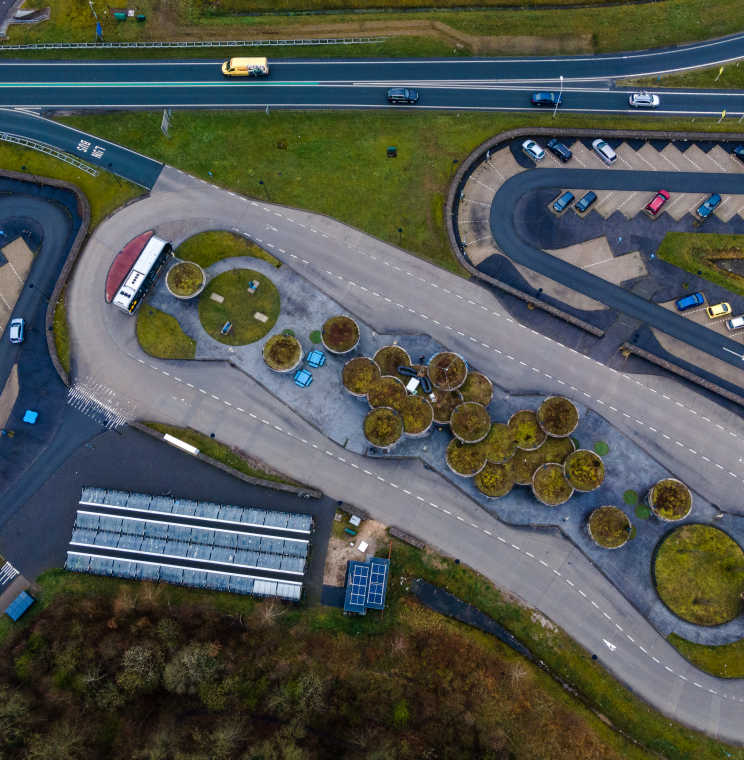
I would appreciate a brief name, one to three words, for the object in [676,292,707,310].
car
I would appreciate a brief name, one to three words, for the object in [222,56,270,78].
vehicle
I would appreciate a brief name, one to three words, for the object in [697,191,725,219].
car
